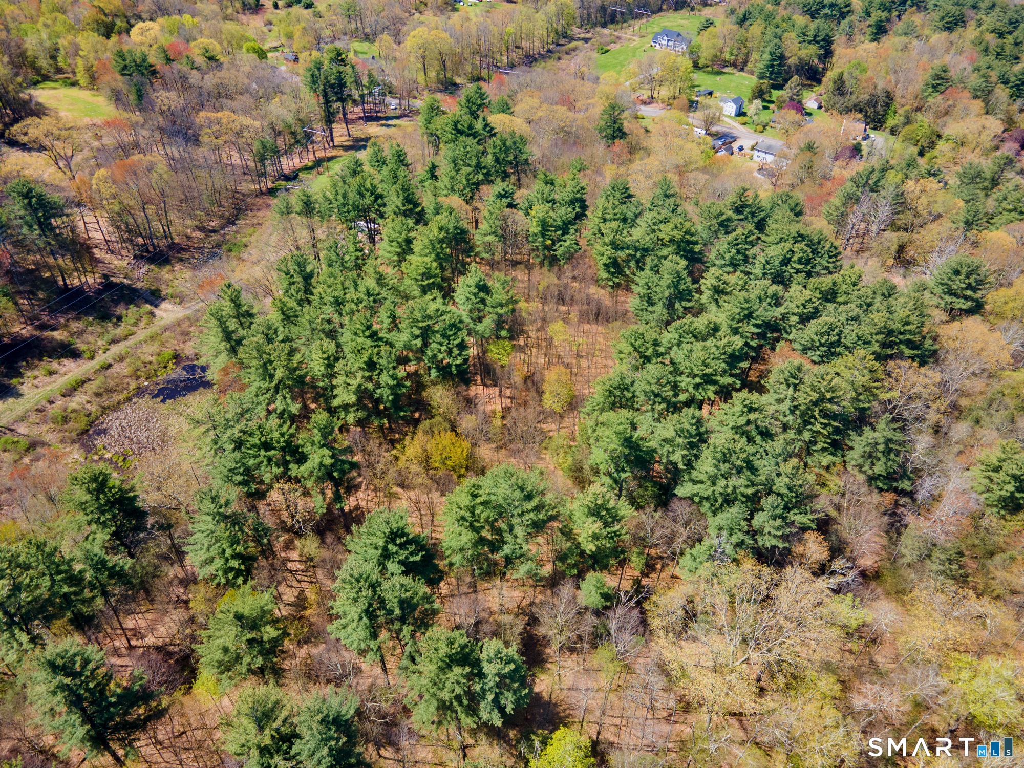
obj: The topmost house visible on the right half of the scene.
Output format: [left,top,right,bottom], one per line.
[648,28,696,51]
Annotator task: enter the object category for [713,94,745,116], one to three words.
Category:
house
